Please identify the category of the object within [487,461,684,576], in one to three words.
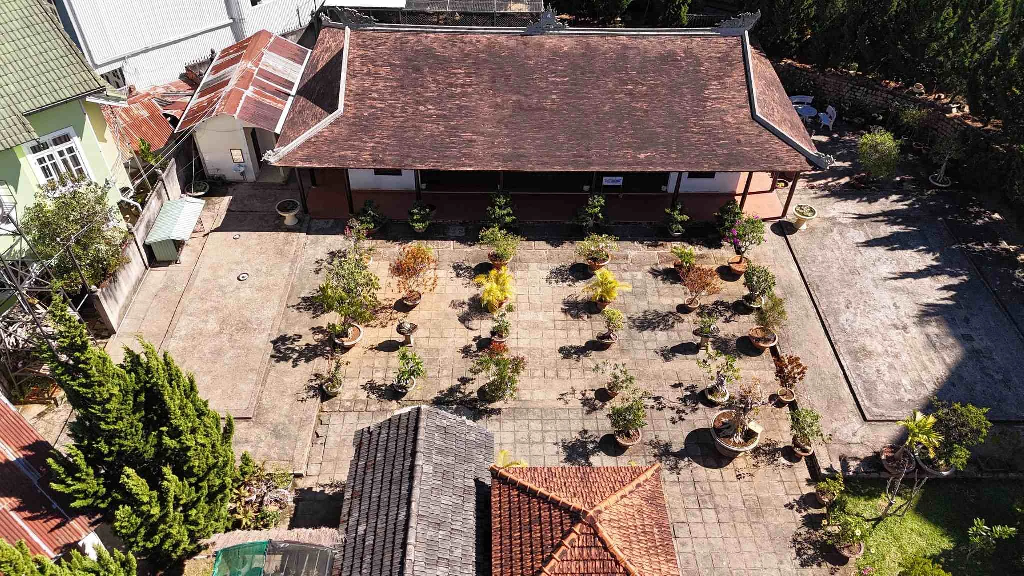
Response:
building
